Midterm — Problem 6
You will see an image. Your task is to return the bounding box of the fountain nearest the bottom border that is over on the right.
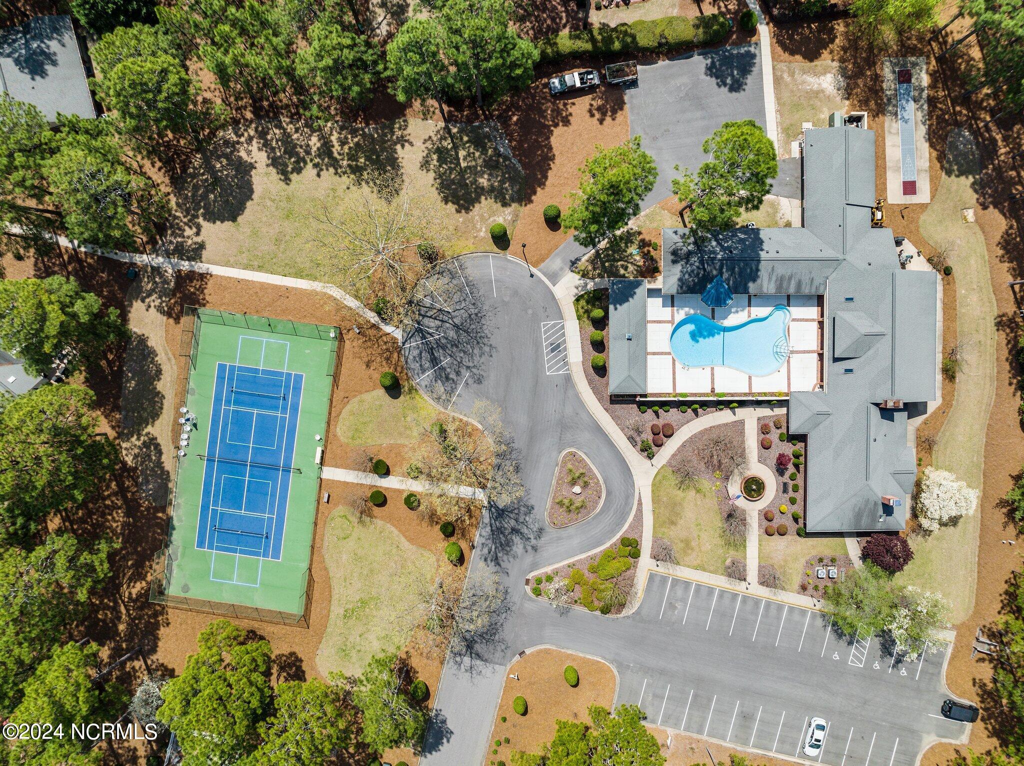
[741,475,769,502]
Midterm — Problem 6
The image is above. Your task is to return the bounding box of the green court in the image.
[162,309,336,612]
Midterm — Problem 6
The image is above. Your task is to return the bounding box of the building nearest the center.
[608,279,647,395]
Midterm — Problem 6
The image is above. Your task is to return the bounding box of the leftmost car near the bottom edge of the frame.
[803,717,824,756]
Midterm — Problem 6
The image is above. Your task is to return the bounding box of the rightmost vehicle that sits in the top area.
[869,197,886,228]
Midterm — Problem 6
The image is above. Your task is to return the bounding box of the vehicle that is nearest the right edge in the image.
[939,698,978,723]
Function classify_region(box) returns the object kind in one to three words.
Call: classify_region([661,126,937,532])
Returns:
building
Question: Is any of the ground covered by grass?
Yes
